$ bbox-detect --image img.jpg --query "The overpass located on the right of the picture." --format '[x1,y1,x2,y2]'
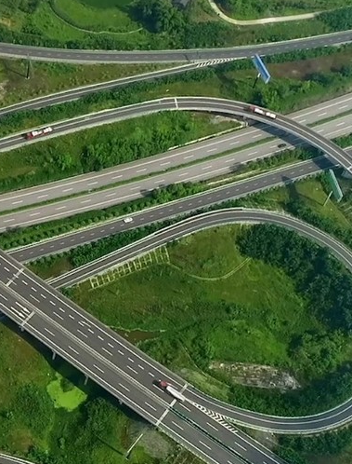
[172,96,352,171]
